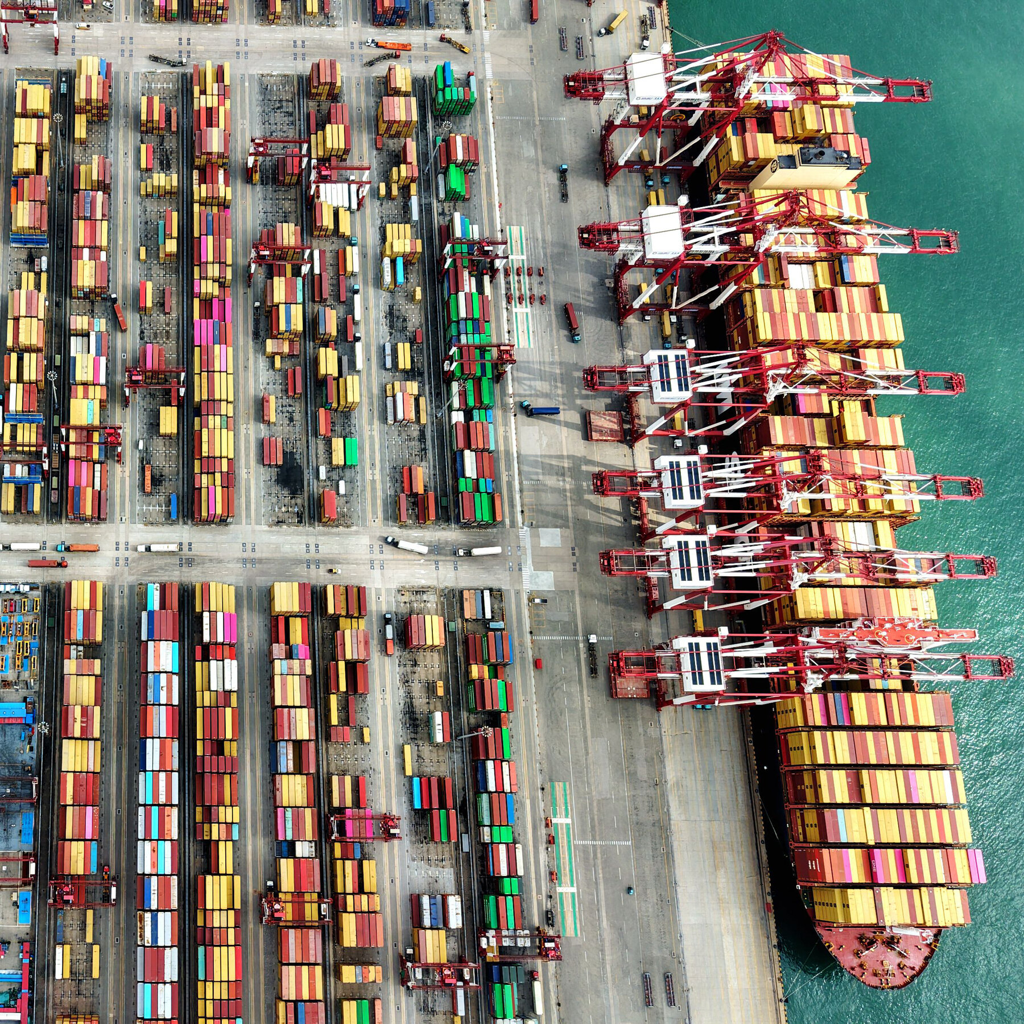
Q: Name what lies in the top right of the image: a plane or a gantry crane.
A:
gantry crane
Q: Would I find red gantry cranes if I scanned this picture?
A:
Yes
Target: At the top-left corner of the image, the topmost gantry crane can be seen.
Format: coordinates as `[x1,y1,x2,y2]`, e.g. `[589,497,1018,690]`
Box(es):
[1,5,60,59]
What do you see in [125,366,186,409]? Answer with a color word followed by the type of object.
red container crane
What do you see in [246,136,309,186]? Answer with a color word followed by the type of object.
red container crane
